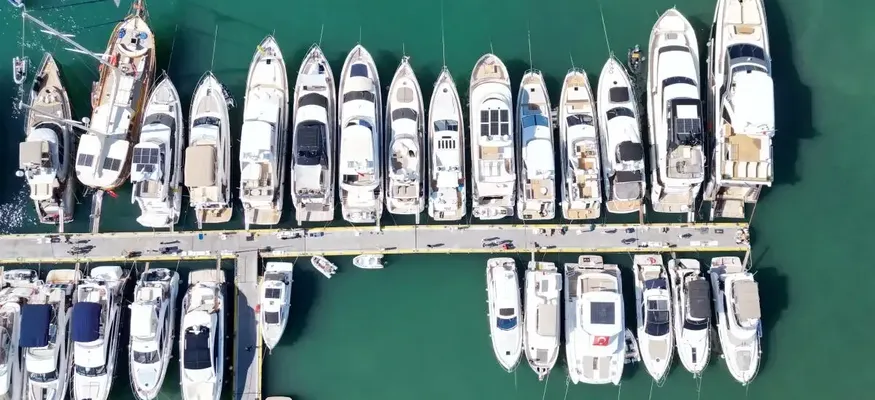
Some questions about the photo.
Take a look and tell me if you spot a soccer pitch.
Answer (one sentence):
No, I can't see a single soccer pitch in this photo.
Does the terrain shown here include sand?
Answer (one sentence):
No, sand can't be seen anywhere here.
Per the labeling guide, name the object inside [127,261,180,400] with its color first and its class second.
white boat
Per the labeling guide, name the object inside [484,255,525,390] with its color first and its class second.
white boat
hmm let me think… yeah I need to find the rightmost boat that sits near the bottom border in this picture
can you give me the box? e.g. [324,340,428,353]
[708,251,763,400]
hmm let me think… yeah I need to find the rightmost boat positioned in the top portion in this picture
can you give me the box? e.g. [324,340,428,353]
[694,0,780,222]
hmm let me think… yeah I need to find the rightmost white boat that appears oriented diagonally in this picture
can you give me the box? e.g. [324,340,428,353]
[312,259,337,279]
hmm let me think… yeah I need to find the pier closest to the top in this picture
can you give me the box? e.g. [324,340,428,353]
[0,224,750,264]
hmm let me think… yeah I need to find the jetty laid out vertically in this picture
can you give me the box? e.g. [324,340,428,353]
[233,260,264,400]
